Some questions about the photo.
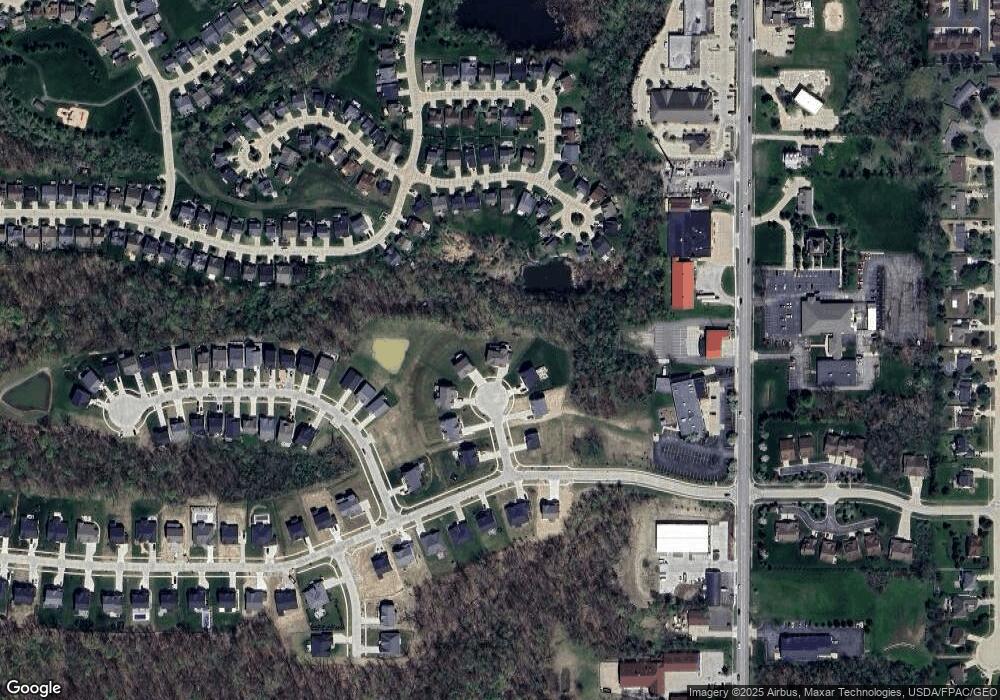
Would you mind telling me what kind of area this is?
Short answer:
residential area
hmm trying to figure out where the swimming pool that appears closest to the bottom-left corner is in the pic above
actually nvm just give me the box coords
[134,608,148,621]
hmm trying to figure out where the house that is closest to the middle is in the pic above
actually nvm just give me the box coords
[486,343,510,367]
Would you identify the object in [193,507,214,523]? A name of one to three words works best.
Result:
swimming pool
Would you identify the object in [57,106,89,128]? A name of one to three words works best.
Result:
playground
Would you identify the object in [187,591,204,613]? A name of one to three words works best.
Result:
house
